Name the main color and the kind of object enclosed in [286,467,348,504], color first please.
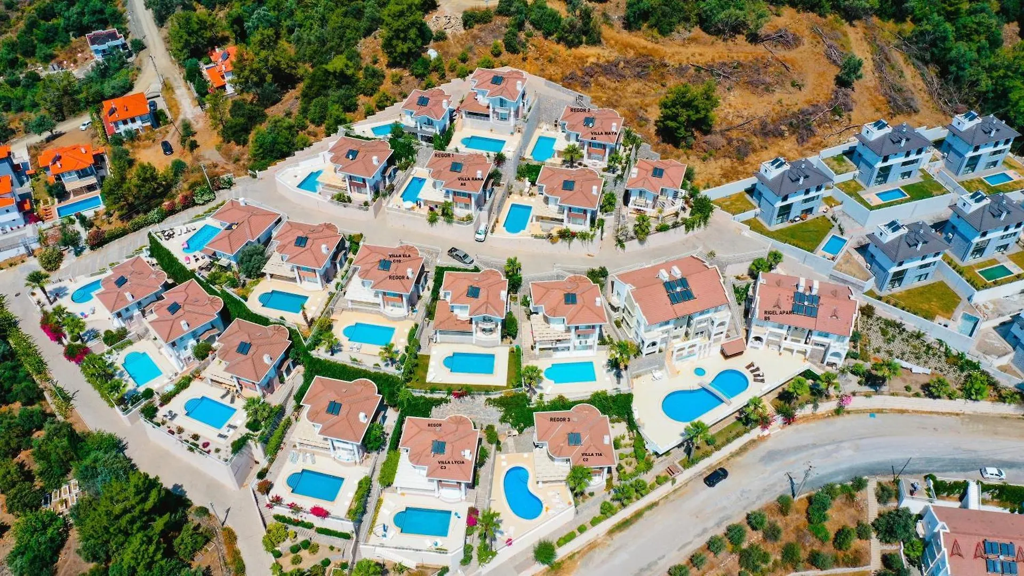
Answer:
blue swimming pool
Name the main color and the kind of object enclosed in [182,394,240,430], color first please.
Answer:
blue swimming pool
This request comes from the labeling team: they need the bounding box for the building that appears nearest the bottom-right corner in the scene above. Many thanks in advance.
[904,504,1024,576]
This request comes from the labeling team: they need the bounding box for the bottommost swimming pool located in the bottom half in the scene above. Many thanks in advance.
[393,506,454,539]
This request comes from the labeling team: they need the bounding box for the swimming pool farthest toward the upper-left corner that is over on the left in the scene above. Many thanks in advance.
[55,195,104,219]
